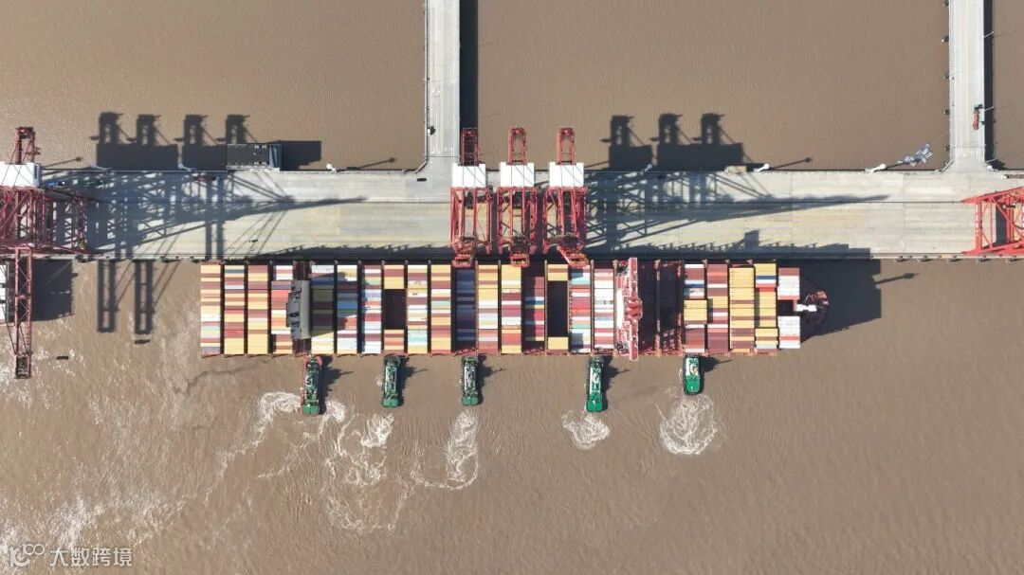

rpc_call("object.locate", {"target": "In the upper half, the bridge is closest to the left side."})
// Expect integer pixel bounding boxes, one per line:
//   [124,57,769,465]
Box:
[417,0,461,171]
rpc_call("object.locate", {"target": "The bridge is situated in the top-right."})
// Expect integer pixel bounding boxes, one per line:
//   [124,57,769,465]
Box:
[941,0,990,171]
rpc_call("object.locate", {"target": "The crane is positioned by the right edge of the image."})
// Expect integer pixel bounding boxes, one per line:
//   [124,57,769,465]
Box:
[958,189,1024,254]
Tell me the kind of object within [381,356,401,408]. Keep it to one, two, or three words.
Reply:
boat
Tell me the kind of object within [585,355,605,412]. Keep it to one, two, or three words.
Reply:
boat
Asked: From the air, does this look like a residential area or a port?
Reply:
port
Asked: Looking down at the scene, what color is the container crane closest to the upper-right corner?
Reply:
red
